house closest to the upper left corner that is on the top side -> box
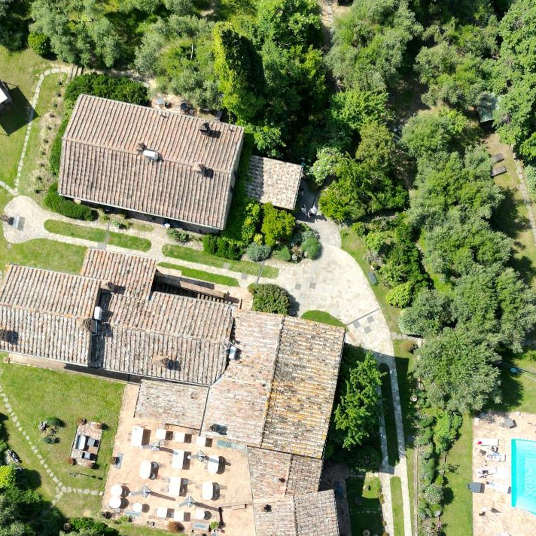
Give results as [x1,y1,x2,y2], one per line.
[58,94,246,239]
